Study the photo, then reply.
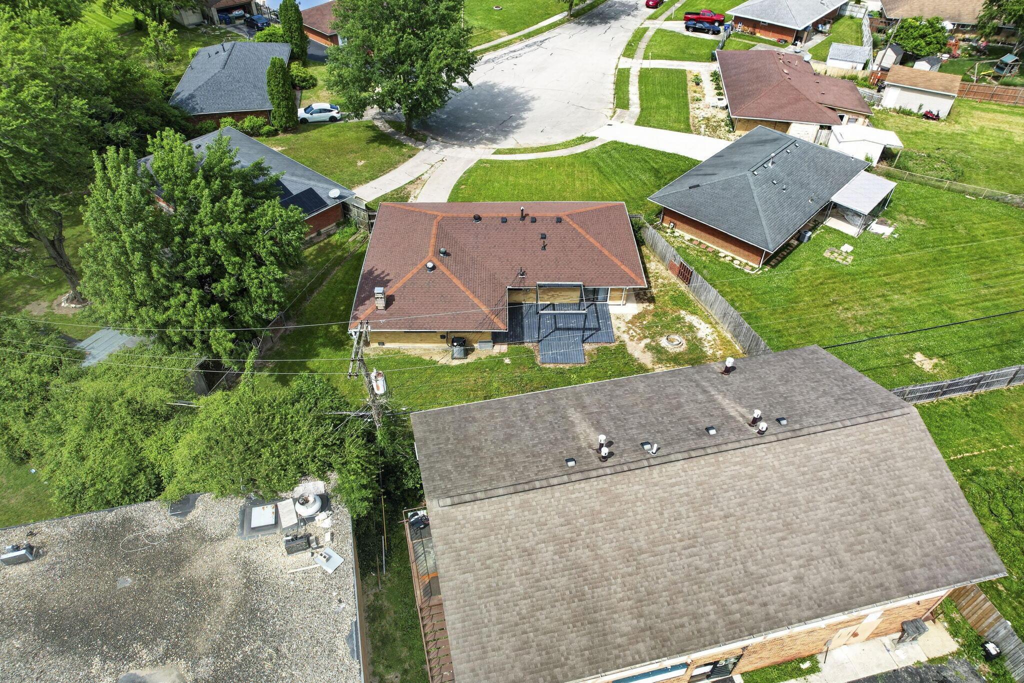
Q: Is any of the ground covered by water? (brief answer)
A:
No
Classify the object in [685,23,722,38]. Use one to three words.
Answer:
car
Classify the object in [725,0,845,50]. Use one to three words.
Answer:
house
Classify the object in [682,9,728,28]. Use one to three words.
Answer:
vehicle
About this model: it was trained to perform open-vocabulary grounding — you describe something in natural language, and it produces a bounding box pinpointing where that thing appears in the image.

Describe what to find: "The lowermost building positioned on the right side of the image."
[411,345,1006,683]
